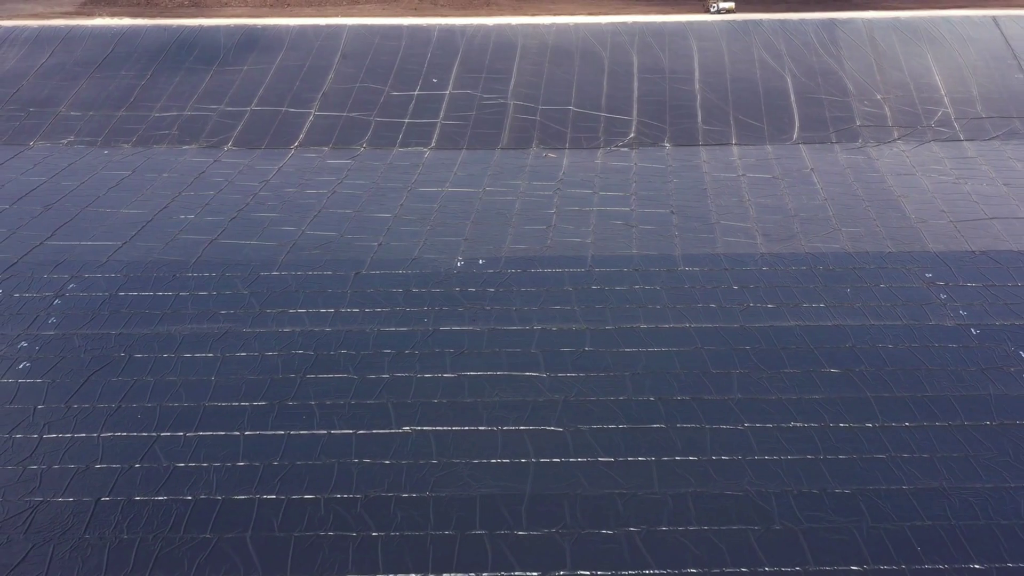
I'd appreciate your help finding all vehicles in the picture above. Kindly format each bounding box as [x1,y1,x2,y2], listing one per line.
[709,2,739,14]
